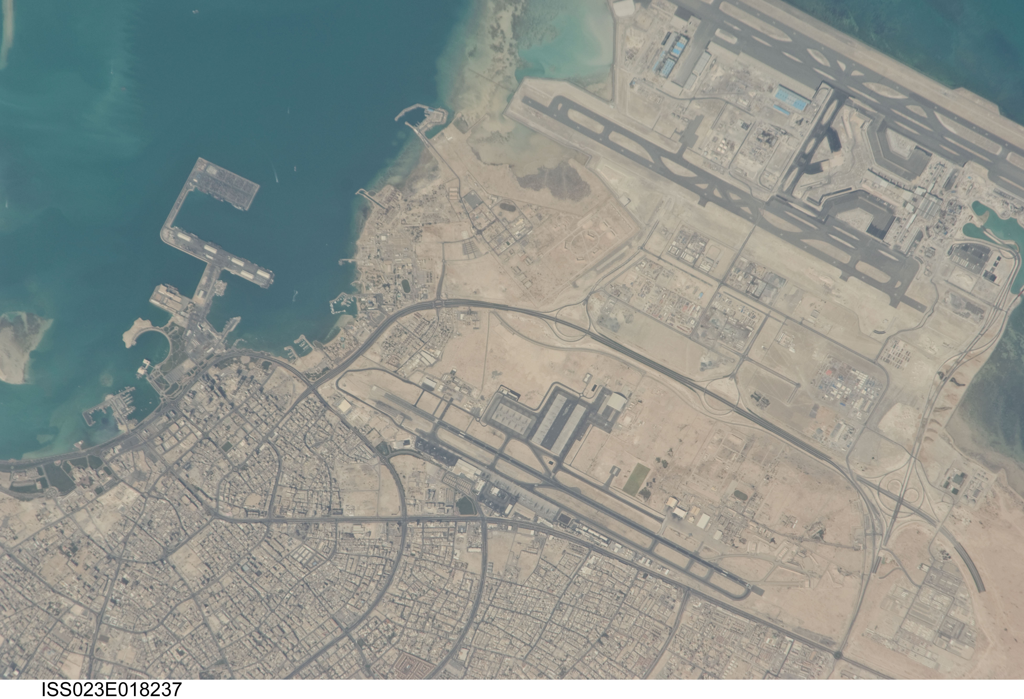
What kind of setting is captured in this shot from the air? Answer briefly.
port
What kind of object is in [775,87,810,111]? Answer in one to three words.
building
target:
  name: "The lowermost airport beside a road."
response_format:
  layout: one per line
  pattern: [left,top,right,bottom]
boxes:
[371,385,809,601]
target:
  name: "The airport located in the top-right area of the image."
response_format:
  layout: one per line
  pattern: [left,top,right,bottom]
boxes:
[516,0,1024,312]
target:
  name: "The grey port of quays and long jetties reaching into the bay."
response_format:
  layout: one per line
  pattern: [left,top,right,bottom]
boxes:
[160,157,274,314]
